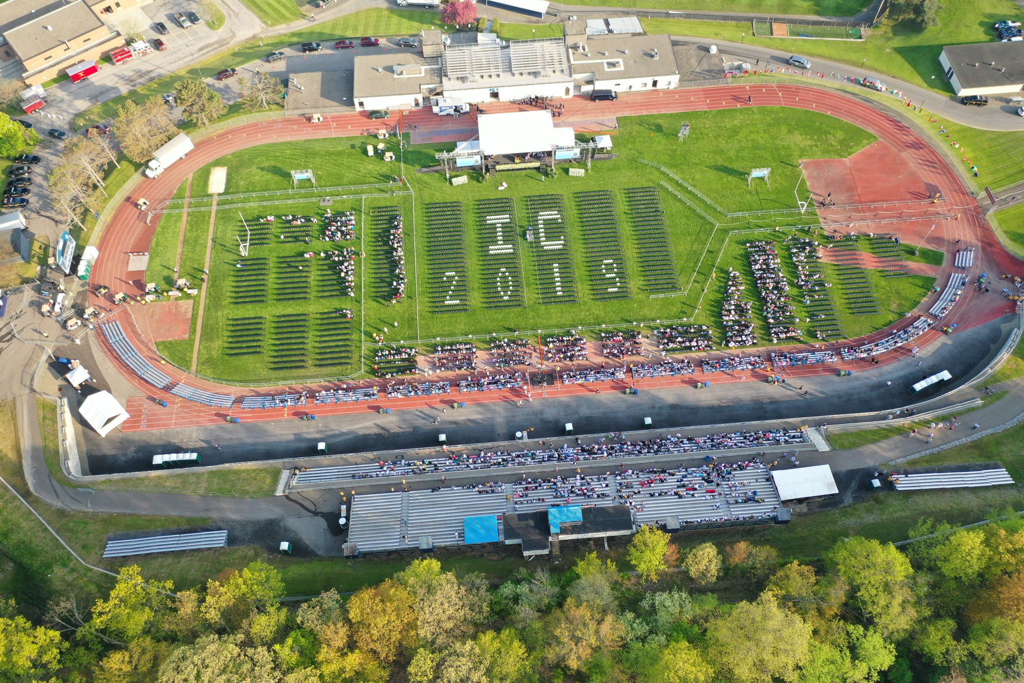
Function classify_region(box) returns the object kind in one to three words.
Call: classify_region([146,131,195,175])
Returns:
truck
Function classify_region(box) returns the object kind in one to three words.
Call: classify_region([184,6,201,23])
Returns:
car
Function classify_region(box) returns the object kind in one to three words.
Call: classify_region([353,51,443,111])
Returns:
building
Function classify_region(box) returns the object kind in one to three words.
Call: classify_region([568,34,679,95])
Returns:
building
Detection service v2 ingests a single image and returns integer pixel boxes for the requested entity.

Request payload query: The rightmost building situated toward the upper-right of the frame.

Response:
[937,38,1024,99]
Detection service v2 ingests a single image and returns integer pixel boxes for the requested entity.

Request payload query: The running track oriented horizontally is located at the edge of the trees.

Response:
[91,83,994,420]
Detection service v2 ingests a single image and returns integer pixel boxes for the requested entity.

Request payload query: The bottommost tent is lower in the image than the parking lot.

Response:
[79,393,136,442]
